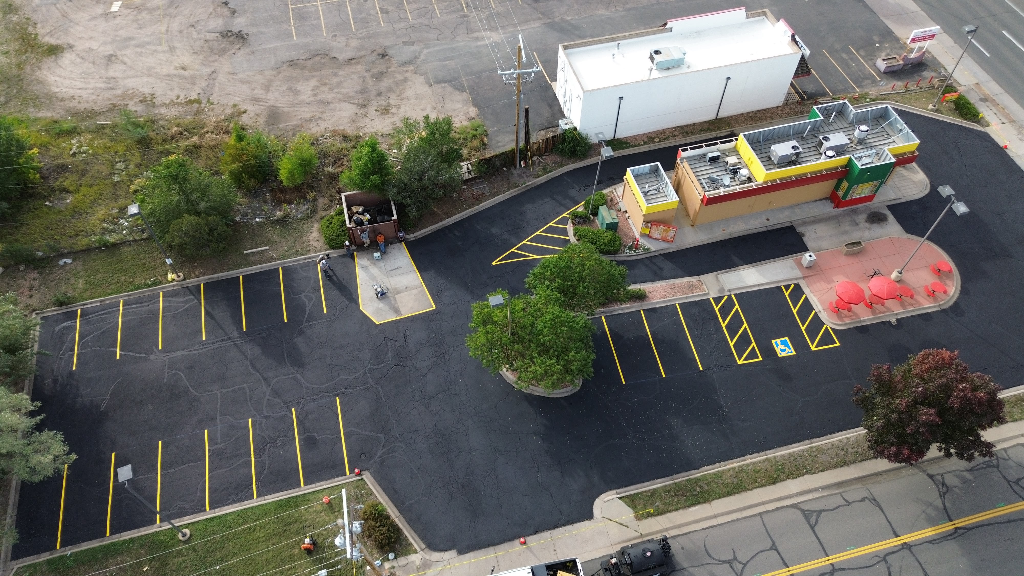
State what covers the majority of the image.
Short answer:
paved ground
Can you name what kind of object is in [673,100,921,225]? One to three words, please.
building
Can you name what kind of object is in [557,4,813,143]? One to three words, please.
building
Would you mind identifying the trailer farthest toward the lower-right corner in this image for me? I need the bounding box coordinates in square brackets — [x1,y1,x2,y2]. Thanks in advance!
[582,534,676,576]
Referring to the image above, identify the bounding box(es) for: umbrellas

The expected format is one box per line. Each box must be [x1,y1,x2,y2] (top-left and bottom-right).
[834,282,869,308]
[868,276,903,303]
